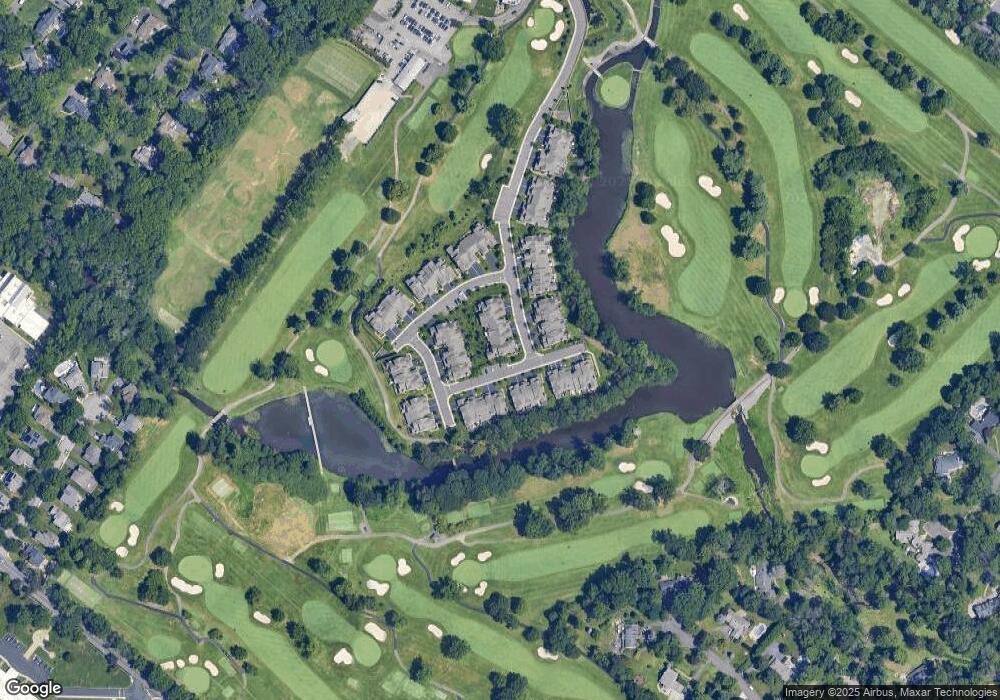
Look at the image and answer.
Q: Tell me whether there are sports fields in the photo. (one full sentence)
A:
Yes, there's a sports field down there.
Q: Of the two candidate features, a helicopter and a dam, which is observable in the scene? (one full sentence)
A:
The one in the frame is a dam.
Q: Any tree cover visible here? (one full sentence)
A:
Yes, some tree cover is visible.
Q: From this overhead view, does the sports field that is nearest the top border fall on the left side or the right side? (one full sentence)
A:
The sports field that is nearest the top border sits on the left side.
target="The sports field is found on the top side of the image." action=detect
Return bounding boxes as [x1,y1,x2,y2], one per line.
[304,35,386,101]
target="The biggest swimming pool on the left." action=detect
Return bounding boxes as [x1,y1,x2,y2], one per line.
[54,360,73,376]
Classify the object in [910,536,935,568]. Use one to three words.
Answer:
house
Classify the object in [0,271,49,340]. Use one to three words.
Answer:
building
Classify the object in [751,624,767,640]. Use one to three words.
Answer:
swimming pool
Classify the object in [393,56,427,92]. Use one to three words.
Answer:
barn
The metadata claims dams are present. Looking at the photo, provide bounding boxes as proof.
[703,374,771,448]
